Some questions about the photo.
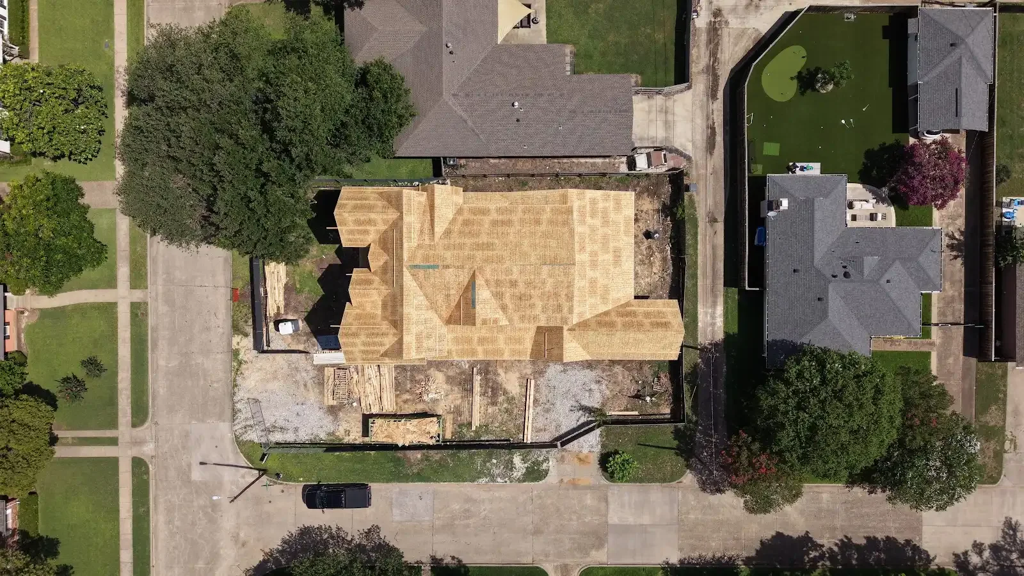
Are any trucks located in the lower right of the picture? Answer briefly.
No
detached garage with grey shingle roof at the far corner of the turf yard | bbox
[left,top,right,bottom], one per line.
[896,8,994,133]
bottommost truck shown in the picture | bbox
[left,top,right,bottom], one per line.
[302,486,374,518]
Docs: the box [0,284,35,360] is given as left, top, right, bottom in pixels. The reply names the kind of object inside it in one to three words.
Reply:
house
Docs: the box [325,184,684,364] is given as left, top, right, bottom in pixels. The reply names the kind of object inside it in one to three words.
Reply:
house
